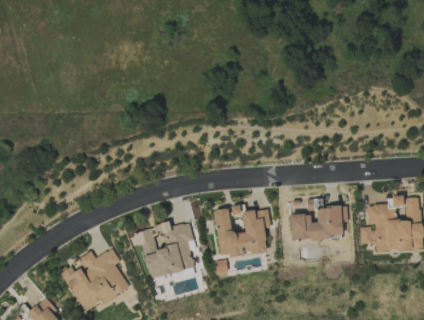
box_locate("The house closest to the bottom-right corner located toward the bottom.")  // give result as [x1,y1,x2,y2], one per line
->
[360,196,424,255]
